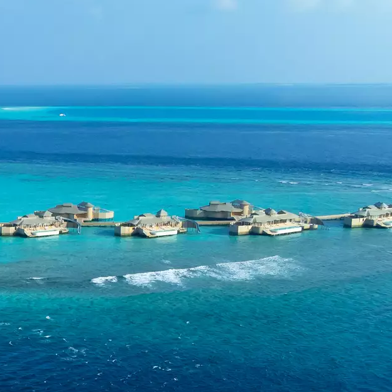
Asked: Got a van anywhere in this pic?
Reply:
No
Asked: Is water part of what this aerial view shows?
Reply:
Yes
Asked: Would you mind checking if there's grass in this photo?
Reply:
No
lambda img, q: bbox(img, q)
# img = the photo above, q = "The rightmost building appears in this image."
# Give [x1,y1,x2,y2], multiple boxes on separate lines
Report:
[339,201,392,228]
